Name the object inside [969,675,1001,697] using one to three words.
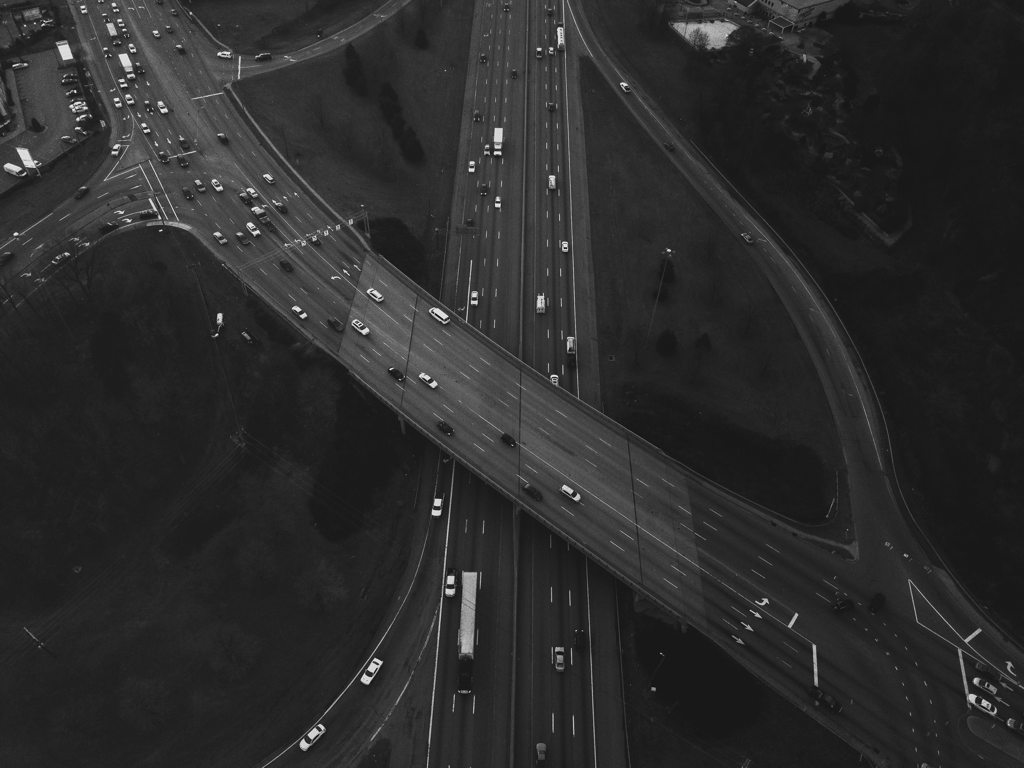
car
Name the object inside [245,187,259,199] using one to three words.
vehicle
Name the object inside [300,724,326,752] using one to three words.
car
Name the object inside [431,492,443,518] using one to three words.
vehicle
